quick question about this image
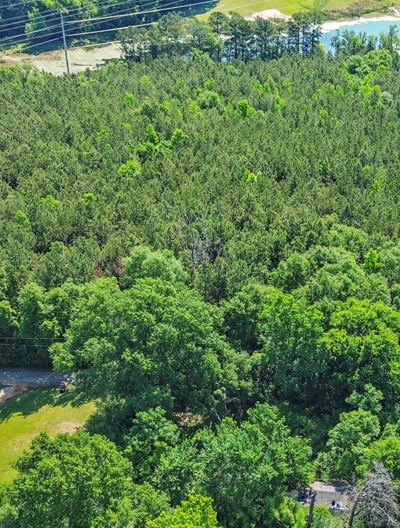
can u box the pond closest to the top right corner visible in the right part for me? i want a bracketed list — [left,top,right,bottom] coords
[179,22,400,76]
